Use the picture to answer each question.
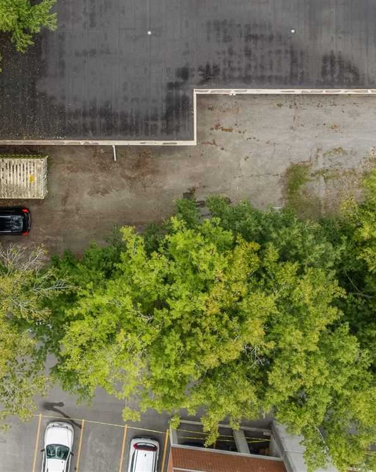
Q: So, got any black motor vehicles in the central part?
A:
No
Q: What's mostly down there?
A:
trees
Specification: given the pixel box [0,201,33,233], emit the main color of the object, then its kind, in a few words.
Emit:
black car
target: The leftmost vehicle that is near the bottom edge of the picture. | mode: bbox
[39,419,74,472]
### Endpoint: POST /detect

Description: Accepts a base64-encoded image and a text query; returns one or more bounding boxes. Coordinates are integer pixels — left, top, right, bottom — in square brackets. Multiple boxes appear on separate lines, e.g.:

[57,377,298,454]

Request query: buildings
[0,0,376,145]
[163,426,317,472]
